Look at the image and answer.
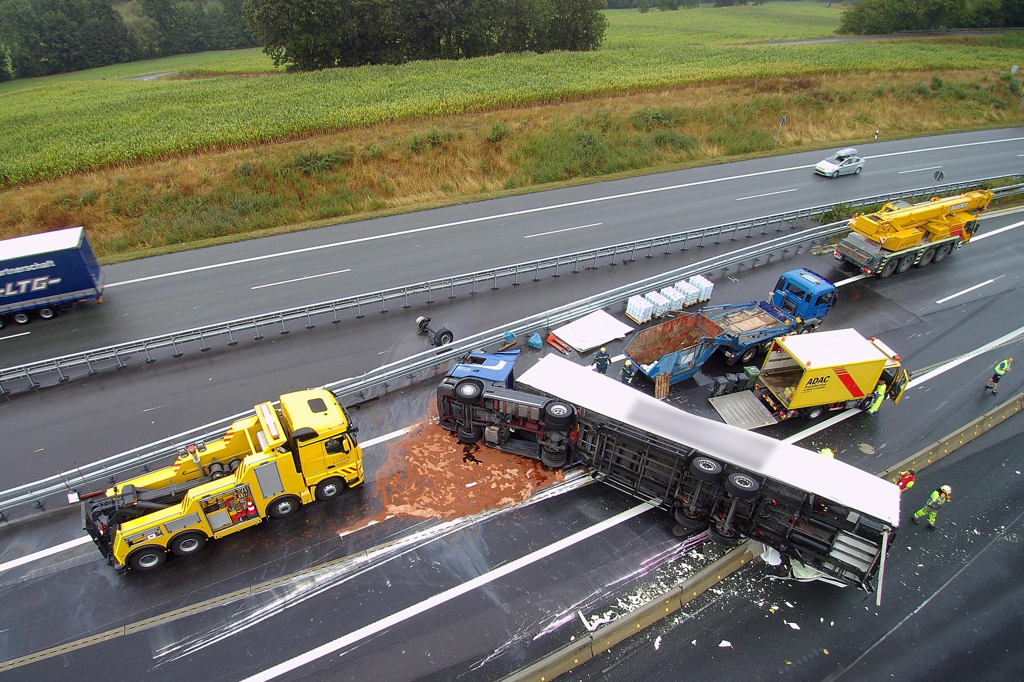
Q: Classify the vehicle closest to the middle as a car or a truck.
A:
truck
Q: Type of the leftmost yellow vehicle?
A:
truck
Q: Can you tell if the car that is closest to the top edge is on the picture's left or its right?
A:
right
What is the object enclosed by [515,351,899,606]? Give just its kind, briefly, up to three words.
trailer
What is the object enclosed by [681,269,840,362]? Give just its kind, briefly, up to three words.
vehicle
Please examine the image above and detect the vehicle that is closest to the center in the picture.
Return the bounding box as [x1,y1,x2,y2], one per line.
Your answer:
[431,354,584,465]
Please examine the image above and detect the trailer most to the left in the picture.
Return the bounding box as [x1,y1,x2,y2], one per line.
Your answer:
[0,228,109,330]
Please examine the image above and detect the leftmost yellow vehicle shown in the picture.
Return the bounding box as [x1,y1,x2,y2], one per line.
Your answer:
[89,392,366,576]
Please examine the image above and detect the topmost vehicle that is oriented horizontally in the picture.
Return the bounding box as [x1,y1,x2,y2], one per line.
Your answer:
[814,149,867,177]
